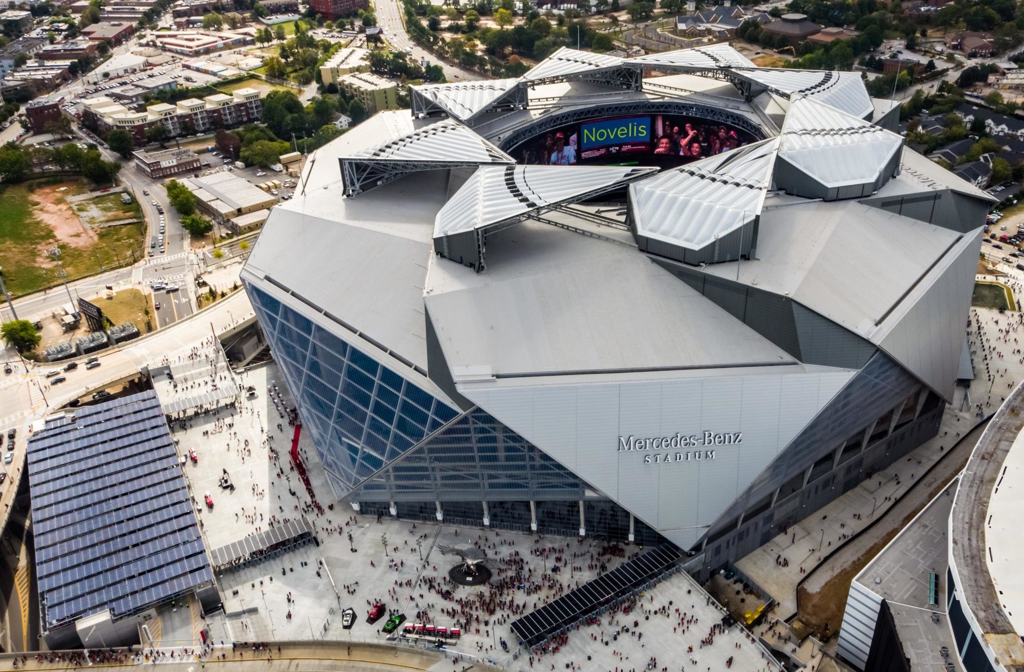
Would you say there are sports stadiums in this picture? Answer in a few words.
Yes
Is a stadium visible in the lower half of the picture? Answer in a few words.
Yes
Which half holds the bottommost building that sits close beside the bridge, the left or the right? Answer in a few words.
left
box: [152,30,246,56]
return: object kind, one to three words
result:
building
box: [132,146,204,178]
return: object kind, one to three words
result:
building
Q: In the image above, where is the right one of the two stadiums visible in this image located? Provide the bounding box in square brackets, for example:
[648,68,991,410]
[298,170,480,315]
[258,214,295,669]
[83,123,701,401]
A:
[944,382,1024,672]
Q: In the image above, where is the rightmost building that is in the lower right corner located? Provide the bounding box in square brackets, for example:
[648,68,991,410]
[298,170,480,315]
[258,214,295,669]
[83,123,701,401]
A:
[838,466,967,672]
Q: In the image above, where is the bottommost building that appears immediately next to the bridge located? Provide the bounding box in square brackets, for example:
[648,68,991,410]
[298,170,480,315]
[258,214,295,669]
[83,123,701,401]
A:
[29,390,223,659]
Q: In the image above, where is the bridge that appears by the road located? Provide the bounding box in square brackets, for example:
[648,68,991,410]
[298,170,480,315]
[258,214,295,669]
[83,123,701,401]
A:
[0,292,255,523]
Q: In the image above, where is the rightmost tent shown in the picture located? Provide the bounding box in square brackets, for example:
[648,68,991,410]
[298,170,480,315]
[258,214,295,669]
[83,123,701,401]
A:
[714,604,745,635]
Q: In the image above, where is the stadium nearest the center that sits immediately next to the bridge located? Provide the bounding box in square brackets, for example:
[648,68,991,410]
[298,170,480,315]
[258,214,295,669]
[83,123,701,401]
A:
[240,34,996,593]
